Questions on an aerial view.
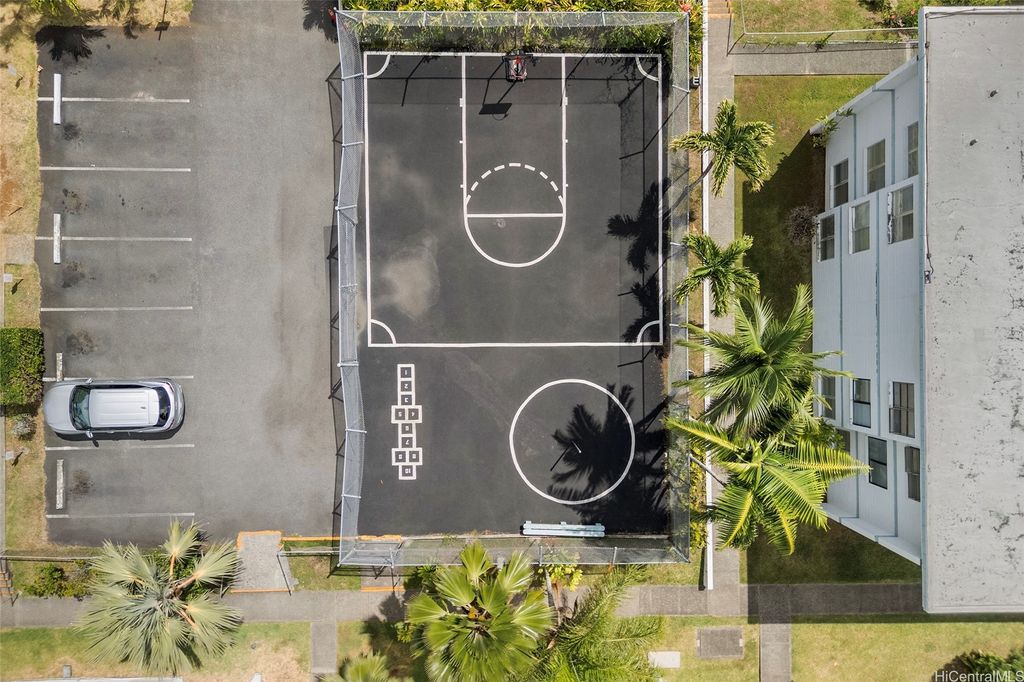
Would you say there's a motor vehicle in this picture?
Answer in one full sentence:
Yes, the frame does contain a motor vehicle.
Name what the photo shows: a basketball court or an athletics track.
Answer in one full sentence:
It is a basketball court that can be seen here.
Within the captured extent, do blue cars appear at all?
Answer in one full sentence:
No, the frame has no blue car in it.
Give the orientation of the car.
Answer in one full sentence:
In this picture, the car is oriented from side to side.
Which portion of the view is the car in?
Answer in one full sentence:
You can find the car in the left area of the picture.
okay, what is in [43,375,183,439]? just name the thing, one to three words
car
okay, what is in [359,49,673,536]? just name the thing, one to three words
basketball court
